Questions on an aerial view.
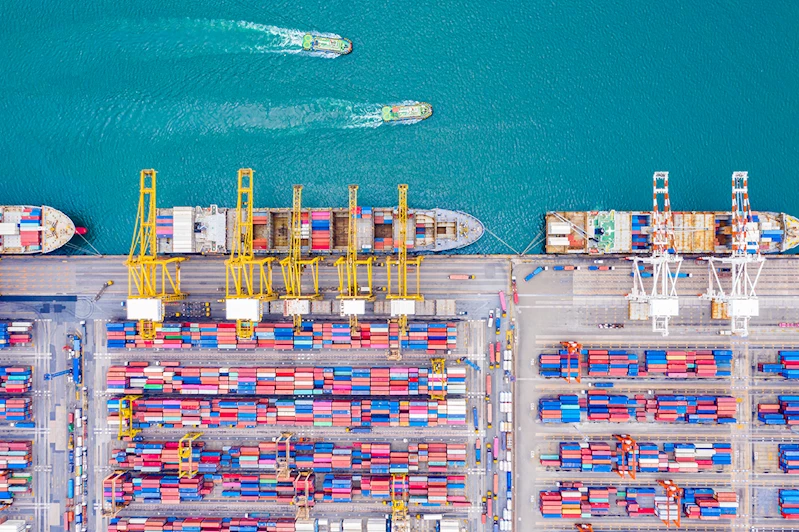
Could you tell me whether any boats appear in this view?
Yes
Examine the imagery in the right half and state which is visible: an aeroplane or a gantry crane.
gantry crane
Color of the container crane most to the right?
white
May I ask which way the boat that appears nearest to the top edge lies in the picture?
from left to right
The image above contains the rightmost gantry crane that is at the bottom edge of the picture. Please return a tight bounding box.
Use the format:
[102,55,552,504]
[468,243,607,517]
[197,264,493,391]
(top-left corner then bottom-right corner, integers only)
[649,480,681,530]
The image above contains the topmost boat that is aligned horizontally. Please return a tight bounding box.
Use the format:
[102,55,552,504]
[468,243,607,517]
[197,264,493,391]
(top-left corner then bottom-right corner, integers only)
[301,34,353,55]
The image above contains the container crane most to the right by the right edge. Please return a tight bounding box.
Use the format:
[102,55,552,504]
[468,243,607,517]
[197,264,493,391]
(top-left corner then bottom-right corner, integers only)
[693,172,767,337]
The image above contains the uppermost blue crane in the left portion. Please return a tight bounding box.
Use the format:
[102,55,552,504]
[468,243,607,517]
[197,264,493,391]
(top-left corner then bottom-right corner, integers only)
[44,335,83,382]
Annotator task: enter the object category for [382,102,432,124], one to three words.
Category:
boat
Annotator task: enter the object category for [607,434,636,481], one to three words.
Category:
container crane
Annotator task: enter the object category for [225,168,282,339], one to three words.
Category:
container crane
